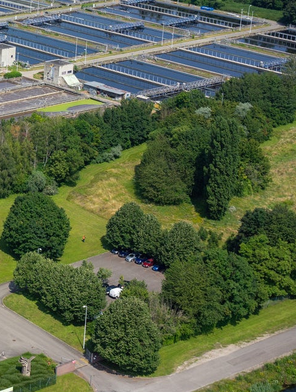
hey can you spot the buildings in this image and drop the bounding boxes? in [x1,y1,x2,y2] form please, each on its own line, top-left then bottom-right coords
[85,82,127,96]
[46,58,82,84]
[0,42,17,64]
